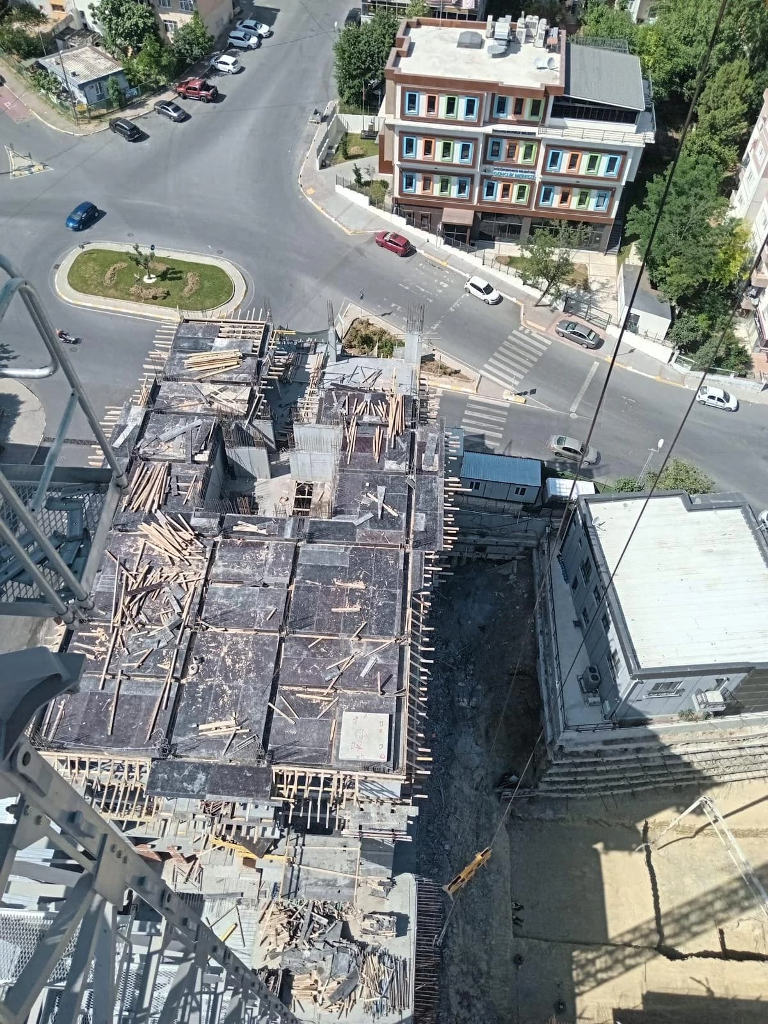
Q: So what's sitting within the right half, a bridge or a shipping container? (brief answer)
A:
shipping container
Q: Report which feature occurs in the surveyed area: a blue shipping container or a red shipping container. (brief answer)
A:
blue shipping container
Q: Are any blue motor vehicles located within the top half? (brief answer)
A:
Yes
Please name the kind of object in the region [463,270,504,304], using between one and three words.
car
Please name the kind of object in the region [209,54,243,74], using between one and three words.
car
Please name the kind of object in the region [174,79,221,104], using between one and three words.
vehicle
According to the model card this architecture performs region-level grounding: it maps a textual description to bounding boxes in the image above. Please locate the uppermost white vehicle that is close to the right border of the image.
[691,381,742,414]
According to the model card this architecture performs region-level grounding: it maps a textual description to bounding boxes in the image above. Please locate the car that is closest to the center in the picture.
[545,433,603,468]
